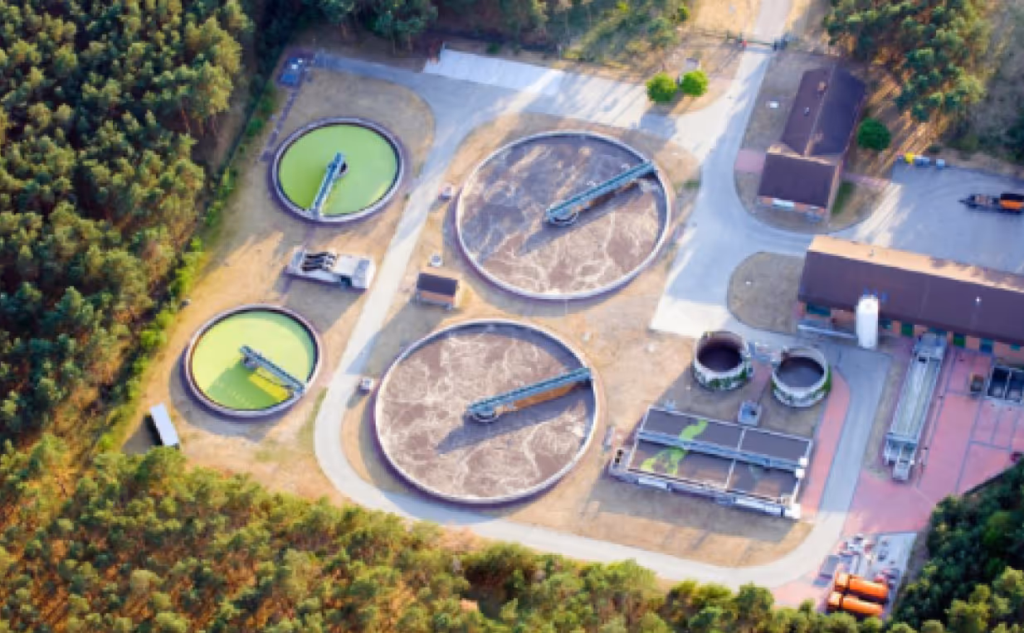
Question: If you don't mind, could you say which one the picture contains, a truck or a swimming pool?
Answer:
truck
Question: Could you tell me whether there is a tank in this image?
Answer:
Yes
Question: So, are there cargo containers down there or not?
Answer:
Yes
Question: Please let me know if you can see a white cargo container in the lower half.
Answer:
Yes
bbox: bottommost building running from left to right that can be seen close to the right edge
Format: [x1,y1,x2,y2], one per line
[794,235,1024,365]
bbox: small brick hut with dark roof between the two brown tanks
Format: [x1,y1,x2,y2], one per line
[417,269,459,308]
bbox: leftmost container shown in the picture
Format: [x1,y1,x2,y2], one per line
[149,401,180,457]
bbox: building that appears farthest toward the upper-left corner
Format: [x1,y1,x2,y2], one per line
[290,237,376,292]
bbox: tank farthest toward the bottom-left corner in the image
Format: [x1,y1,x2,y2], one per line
[180,306,329,426]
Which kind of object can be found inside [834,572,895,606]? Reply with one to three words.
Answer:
truck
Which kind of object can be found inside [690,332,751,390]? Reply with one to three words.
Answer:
storage tank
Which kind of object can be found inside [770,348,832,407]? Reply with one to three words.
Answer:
storage tank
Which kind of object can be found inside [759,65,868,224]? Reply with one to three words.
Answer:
building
